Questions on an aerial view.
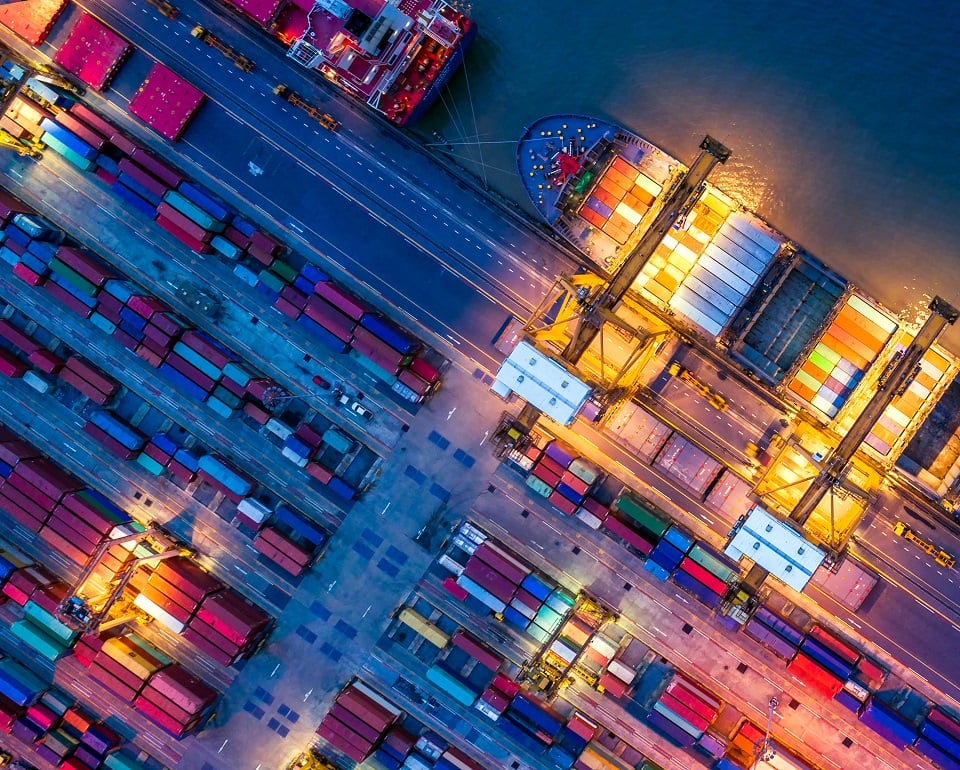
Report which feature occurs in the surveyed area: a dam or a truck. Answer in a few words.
truck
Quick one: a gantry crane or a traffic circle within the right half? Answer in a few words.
gantry crane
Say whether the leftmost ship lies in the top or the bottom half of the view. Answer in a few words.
top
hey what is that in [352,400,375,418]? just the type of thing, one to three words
vehicle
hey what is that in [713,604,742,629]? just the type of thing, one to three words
shipping container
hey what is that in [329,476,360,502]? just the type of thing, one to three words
shipping container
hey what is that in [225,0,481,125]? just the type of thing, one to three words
ship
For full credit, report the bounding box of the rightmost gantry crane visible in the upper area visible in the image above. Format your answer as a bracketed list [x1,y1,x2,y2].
[486,129,735,457]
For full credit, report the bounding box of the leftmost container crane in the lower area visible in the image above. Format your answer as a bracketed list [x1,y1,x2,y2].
[59,525,183,633]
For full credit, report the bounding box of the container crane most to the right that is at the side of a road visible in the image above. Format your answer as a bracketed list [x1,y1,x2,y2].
[714,292,960,616]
